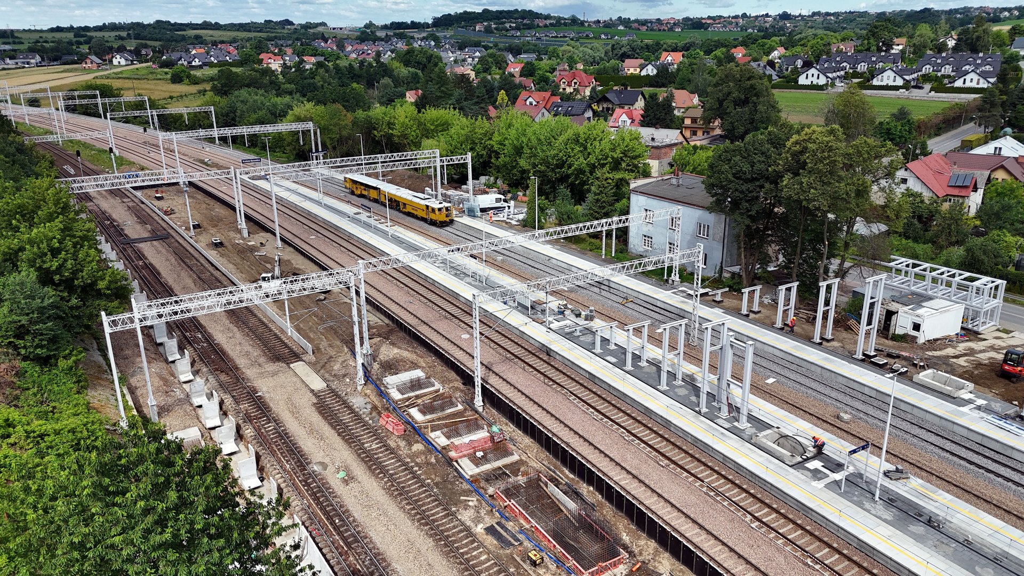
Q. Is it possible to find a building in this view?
Yes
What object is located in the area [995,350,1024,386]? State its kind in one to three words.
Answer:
work vehicle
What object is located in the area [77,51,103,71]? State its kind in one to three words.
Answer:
house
